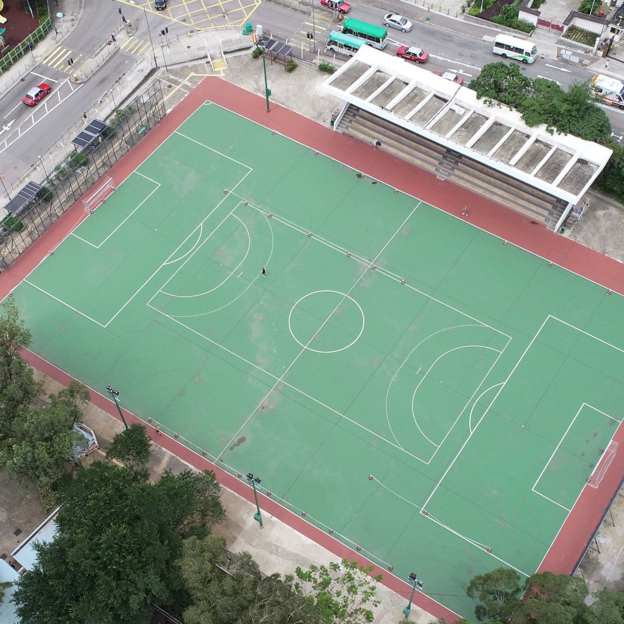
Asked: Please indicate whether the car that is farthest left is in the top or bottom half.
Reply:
top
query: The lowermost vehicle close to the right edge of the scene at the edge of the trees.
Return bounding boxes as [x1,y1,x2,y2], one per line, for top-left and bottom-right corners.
[588,74,624,109]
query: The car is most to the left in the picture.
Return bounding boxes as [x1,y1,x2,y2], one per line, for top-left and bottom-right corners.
[20,83,55,108]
